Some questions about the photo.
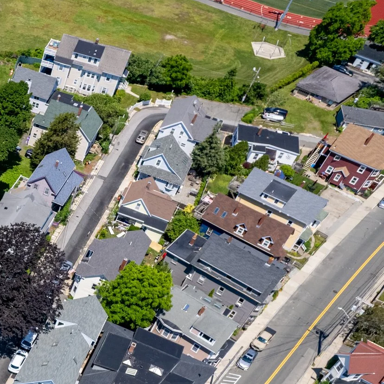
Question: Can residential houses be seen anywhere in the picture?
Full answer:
Yes, I can see a residential house in this picture.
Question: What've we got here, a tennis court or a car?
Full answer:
The image shows a car.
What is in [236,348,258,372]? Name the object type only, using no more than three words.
car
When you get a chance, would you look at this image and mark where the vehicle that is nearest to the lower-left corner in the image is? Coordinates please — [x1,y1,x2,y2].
[8,349,29,375]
